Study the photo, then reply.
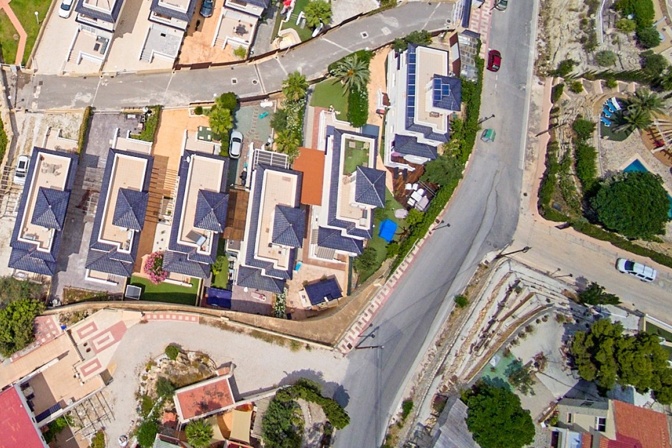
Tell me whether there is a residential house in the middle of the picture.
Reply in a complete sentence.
Yes, looking in the middle of the picture, one can make out a residential house.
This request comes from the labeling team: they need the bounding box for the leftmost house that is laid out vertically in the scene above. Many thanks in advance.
[7,121,81,285]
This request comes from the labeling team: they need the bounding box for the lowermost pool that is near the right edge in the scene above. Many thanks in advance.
[618,154,672,227]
